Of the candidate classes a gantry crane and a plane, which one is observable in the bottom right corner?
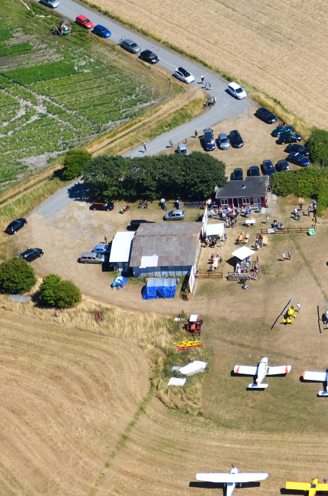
plane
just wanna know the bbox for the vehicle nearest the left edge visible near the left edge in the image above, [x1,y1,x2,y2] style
[5,220,29,234]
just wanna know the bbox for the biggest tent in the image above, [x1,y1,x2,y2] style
[141,277,177,298]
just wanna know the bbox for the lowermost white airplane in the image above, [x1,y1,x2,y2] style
[194,466,267,496]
